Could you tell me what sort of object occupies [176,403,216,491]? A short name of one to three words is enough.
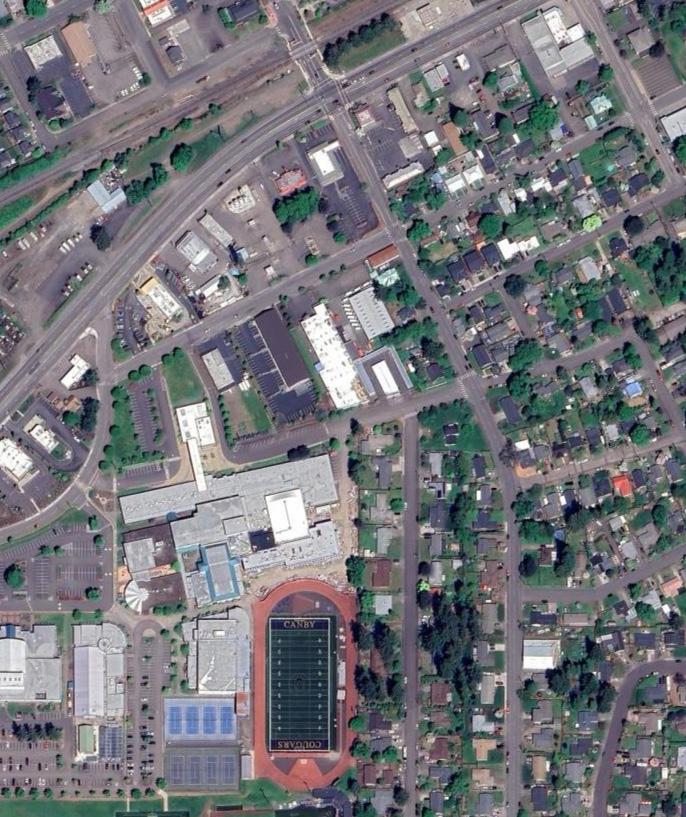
building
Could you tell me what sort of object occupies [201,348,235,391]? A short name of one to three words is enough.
building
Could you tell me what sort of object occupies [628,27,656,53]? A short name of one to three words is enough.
house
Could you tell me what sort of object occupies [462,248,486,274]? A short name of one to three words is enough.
house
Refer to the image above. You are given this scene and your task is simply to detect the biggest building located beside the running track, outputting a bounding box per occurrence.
[119,454,338,607]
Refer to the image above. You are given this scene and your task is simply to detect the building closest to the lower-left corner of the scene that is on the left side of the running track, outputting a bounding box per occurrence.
[76,722,98,761]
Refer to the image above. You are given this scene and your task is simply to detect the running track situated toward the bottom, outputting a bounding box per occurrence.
[253,579,357,792]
